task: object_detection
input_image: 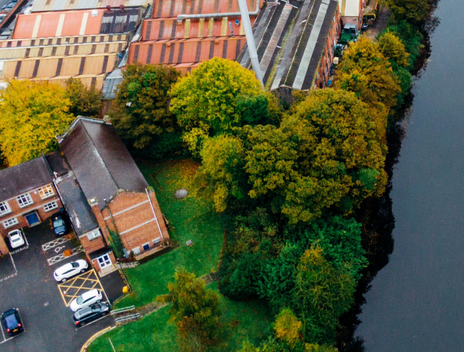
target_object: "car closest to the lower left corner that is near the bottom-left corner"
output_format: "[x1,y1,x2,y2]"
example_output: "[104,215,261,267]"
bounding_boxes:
[3,307,23,334]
